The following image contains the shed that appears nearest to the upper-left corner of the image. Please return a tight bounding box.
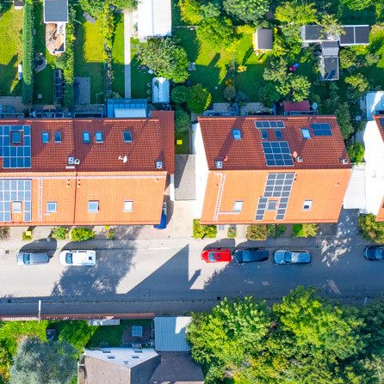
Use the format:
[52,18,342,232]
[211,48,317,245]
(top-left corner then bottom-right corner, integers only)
[43,0,69,24]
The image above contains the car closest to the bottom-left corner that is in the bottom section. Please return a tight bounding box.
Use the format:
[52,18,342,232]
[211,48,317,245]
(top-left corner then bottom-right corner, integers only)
[17,250,51,266]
